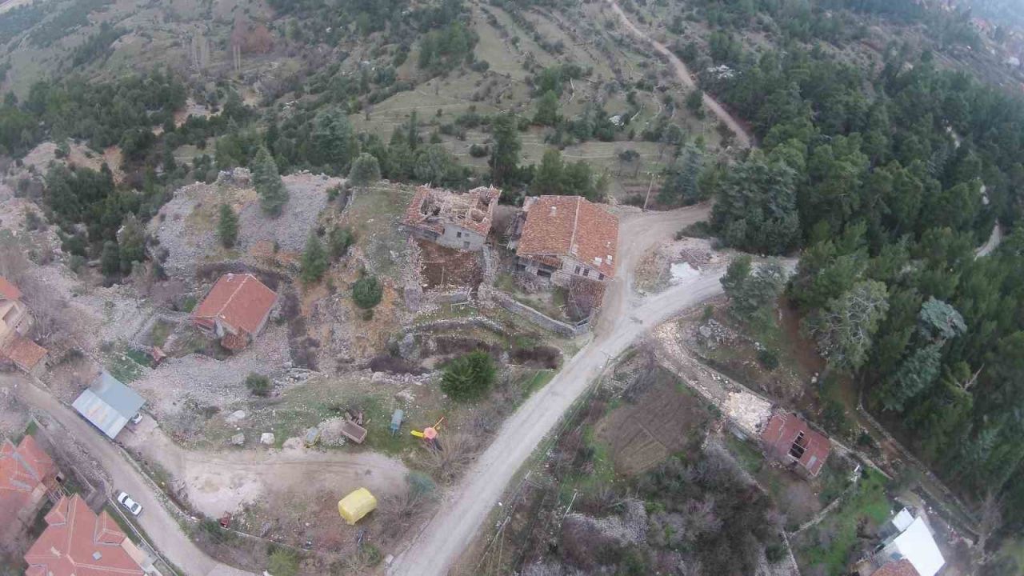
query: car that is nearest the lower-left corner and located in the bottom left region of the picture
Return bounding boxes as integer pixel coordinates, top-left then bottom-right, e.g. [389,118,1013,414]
[115,492,144,517]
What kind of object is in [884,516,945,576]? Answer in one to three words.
building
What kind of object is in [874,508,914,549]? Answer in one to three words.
shed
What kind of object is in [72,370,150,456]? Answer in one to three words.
shed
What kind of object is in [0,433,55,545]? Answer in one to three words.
house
